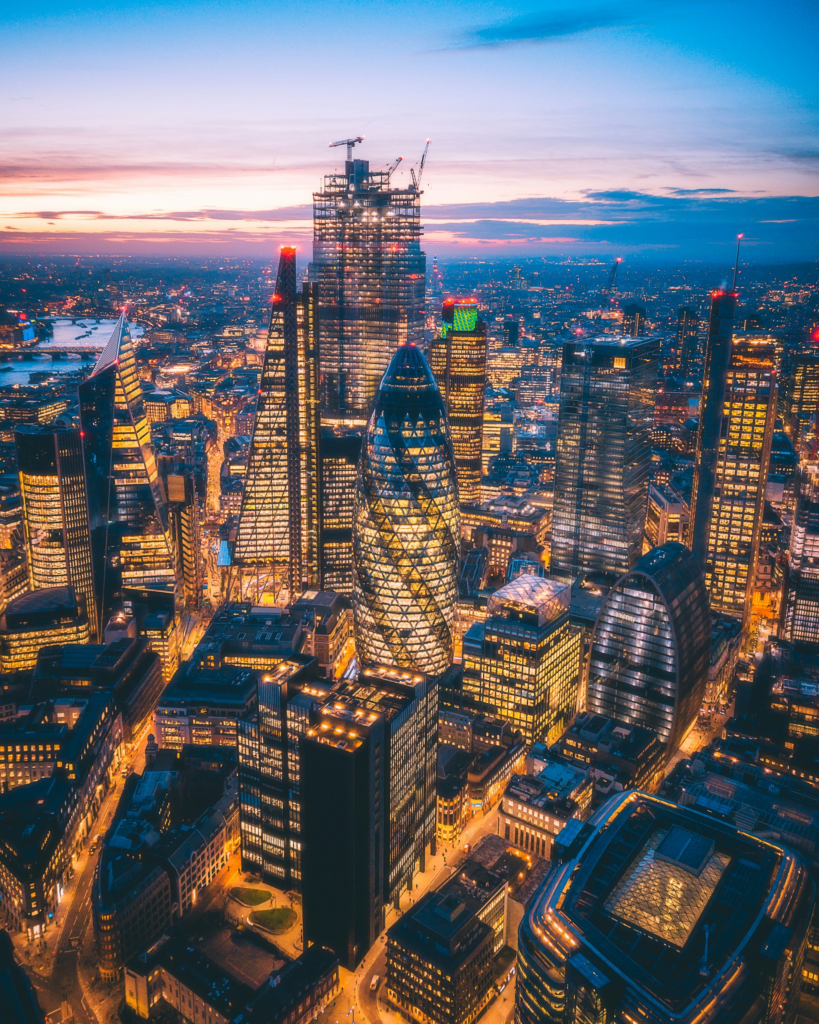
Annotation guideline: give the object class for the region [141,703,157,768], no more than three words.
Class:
building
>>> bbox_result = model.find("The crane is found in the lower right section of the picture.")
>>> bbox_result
[694,921,718,982]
